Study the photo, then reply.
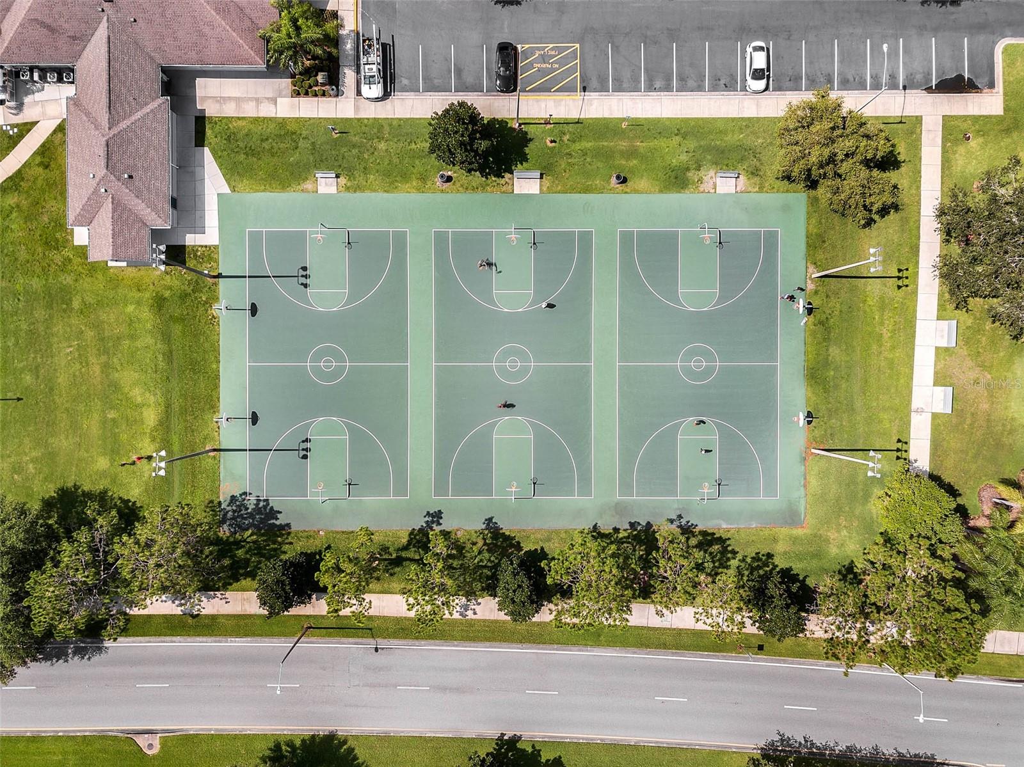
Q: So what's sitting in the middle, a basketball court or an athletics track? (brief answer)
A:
basketball court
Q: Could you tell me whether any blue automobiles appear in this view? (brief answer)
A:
No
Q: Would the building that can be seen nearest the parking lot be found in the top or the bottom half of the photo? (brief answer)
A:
top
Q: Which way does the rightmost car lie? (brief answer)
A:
from top to bottom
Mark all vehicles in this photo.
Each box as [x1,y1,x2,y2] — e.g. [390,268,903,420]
[744,42,769,94]
[360,22,385,100]
[494,43,518,93]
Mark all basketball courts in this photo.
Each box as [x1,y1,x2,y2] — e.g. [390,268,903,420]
[247,229,409,498]
[433,230,594,498]
[617,229,780,499]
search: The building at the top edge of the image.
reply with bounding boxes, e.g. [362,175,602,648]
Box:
[0,0,272,265]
